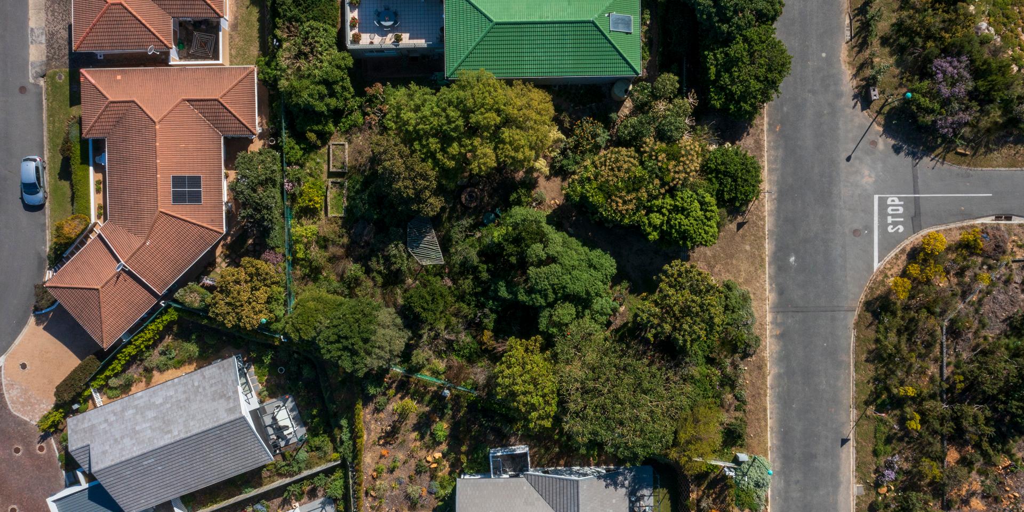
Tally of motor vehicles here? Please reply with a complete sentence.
The picture shows 1 motor vehicle.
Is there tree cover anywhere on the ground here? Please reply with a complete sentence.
Yes, some tree cover is visible.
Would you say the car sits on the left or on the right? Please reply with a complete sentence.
The car is on the left side of the image.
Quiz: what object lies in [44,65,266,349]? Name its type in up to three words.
house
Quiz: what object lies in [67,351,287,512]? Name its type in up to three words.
house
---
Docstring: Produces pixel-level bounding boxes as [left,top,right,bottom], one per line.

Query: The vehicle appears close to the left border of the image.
[19,156,50,206]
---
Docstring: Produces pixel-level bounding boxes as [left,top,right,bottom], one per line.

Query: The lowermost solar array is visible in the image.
[169,174,204,205]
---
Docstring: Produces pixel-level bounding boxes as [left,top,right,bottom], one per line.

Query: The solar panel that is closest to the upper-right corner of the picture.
[614,10,636,33]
